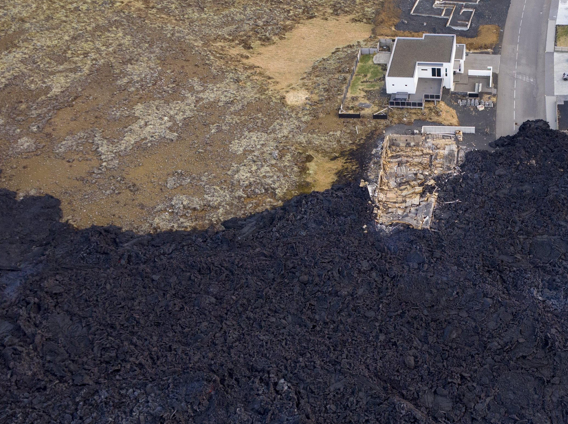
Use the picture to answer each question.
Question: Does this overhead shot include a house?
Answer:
Yes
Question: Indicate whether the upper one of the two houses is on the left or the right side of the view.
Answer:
right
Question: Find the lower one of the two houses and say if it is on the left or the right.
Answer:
right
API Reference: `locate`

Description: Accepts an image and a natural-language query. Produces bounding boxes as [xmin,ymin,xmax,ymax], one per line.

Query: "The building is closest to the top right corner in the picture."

[387,34,465,115]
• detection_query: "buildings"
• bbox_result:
[387,34,465,115]
[374,132,463,231]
